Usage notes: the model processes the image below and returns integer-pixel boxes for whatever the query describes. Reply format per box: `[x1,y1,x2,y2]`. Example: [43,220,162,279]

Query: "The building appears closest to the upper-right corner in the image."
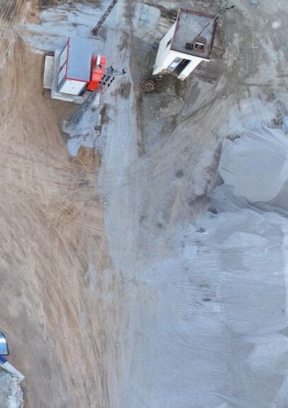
[152,7,217,83]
